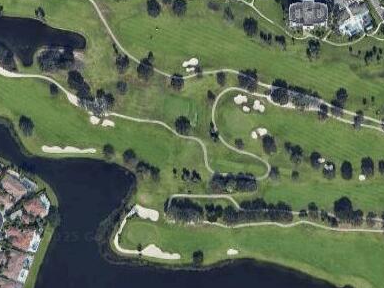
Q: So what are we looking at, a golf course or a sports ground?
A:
golf course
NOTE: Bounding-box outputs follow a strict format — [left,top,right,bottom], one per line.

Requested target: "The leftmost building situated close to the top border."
[288,0,327,29]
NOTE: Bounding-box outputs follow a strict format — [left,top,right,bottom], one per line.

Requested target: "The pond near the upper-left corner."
[0,17,85,64]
